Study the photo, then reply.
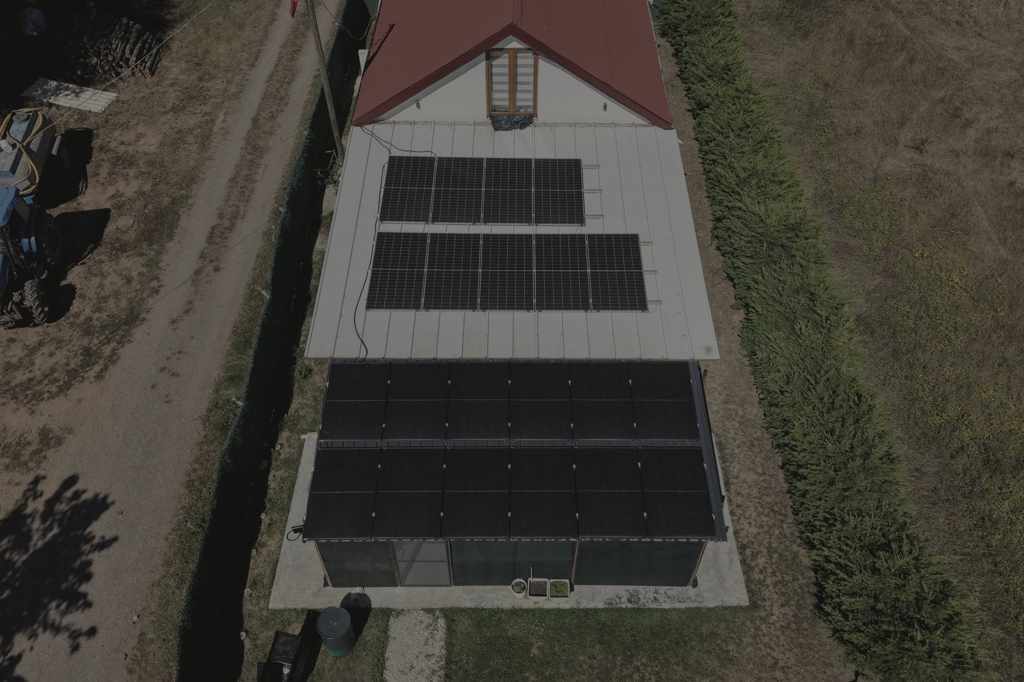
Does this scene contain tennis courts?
No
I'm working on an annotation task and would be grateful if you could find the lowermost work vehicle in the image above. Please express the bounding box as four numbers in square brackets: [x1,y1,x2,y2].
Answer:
[0,182,69,323]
